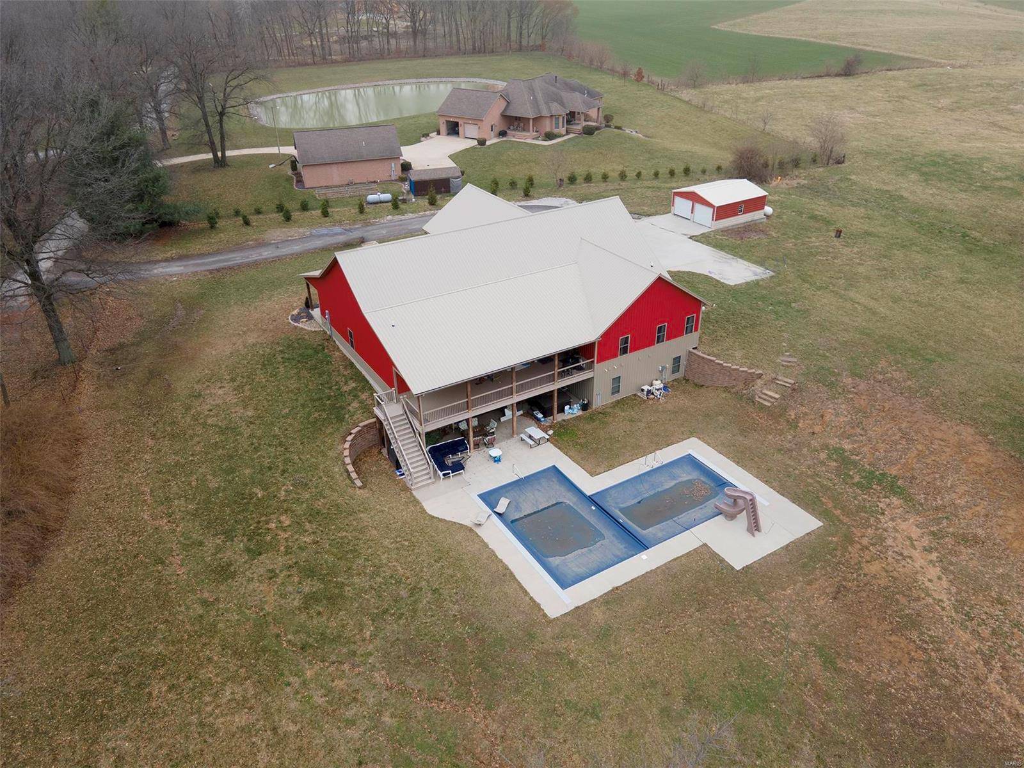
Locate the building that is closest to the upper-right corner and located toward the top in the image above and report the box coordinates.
[670,178,771,229]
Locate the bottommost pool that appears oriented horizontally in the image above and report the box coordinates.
[470,446,766,603]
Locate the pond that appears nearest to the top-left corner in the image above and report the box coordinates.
[249,79,510,127]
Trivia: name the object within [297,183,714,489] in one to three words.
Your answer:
house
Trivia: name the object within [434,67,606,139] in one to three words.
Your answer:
house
